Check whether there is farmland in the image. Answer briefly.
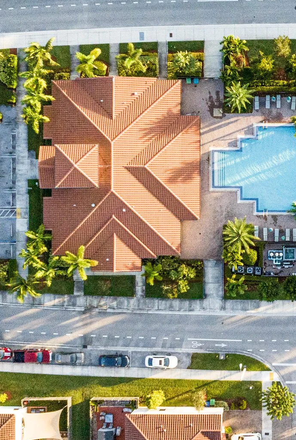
No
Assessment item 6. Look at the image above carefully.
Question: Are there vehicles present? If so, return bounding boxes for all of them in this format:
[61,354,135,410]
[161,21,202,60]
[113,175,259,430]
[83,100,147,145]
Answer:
[232,433,262,440]
[13,348,54,364]
[0,346,14,360]
[145,355,178,369]
[56,352,85,364]
[99,354,131,367]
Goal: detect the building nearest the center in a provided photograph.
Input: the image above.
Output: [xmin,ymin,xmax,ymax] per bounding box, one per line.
[36,73,201,272]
